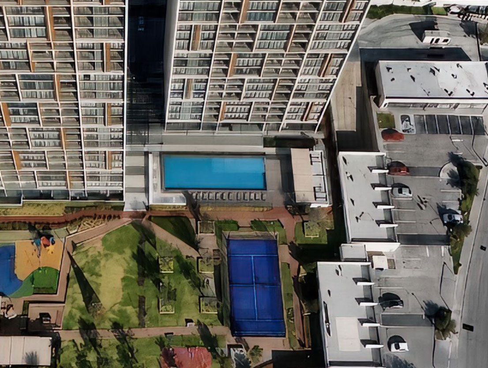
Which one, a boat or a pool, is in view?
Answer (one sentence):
I can see a pool in this picture.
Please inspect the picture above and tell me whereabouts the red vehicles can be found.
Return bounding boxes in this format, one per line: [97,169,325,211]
[384,131,405,142]
[388,165,409,175]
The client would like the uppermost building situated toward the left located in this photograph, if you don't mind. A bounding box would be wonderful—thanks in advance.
[134,0,166,52]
